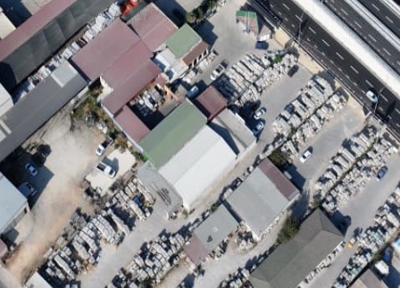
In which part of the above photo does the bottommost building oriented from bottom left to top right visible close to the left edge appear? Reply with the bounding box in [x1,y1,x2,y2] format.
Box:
[0,62,89,171]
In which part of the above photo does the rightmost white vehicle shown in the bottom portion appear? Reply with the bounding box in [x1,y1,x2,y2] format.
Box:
[372,258,396,278]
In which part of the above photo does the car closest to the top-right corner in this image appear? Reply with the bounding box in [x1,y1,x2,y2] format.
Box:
[363,89,379,104]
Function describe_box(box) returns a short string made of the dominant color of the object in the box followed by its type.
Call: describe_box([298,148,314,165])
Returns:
white car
